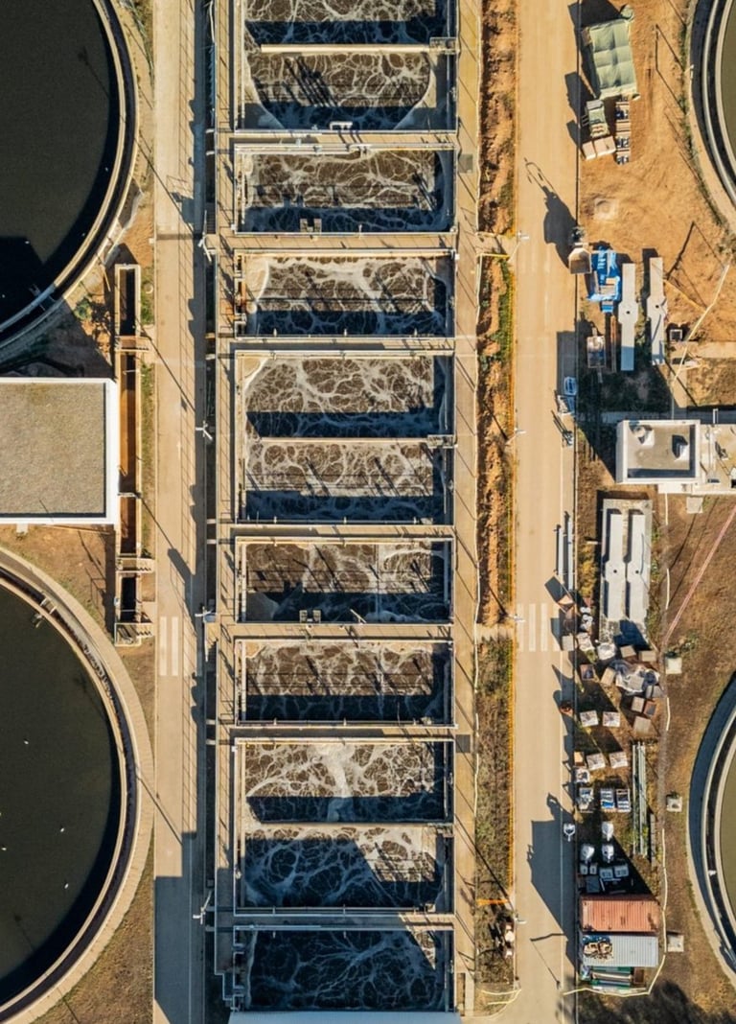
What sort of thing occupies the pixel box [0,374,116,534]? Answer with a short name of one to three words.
building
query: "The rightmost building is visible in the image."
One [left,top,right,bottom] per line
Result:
[617,420,701,493]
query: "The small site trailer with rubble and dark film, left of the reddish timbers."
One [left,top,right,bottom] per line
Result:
[587,328,605,382]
